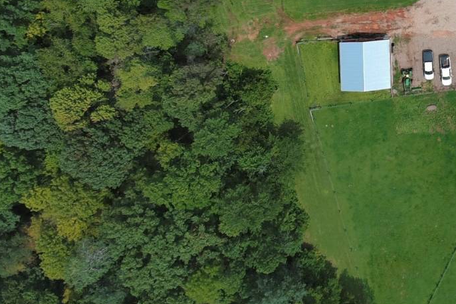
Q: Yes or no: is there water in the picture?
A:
No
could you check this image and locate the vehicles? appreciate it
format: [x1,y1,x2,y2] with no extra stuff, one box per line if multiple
[401,67,412,90]
[422,48,435,81]
[439,53,453,86]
